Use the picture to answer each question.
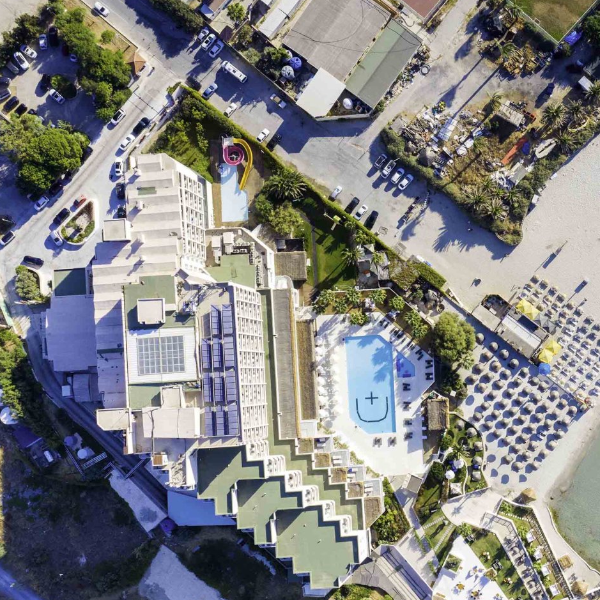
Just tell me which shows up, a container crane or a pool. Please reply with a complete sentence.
Of the two, only a pool appears.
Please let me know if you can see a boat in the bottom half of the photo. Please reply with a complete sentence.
No, in the bottom half of the photo there is no boat.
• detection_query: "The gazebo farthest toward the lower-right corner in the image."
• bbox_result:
[570,581,587,596]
